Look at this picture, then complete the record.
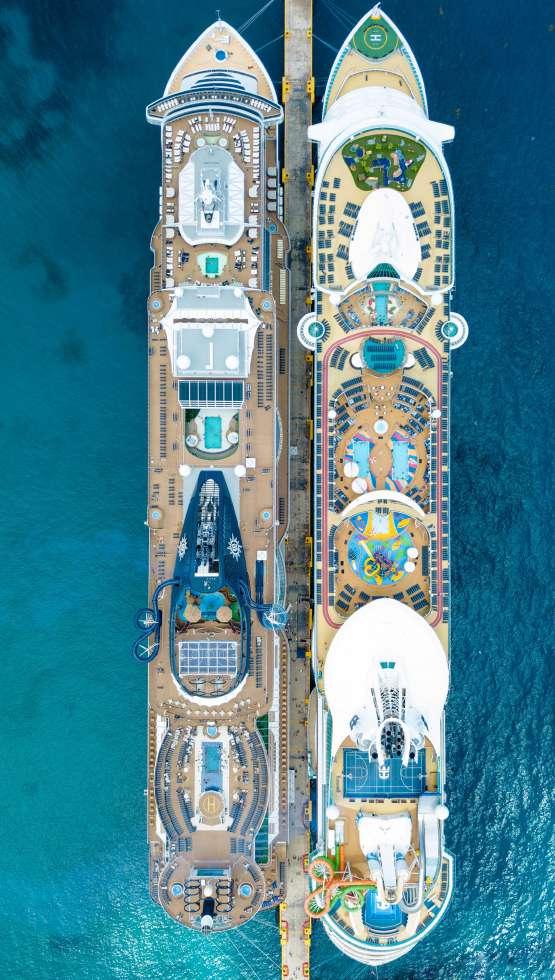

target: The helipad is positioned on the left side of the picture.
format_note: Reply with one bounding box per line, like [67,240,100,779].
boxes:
[198,791,225,817]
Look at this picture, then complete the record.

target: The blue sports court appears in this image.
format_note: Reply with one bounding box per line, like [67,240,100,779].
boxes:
[343,748,425,793]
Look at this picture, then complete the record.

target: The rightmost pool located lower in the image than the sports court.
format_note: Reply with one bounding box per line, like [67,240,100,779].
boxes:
[360,890,410,931]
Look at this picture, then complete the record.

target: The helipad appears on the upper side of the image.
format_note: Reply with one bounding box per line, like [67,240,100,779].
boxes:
[345,14,405,60]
